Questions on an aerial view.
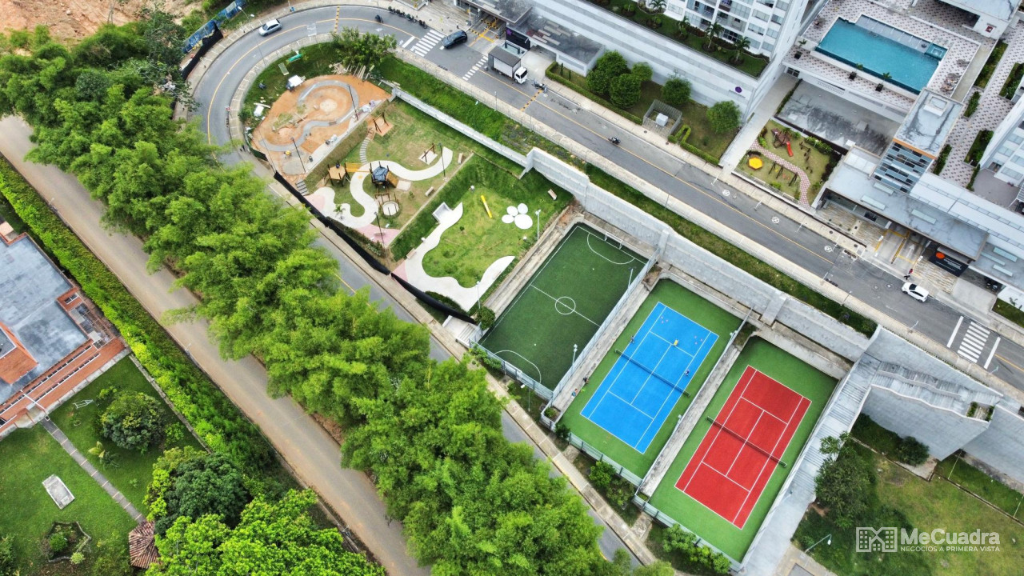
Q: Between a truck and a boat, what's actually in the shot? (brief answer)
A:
truck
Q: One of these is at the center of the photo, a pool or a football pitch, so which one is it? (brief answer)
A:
football pitch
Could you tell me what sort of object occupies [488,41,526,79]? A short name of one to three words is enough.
truck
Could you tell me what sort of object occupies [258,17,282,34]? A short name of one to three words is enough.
car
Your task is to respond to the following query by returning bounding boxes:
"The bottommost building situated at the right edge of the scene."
[822,149,1024,321]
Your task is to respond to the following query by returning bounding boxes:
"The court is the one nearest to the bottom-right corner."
[644,338,839,571]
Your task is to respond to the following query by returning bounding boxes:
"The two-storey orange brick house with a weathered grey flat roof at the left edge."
[0,223,129,433]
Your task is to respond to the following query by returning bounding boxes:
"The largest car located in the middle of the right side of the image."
[902,282,932,301]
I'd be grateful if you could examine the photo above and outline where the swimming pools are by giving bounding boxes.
[815,14,947,94]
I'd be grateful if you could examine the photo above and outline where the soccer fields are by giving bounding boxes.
[481,225,649,404]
